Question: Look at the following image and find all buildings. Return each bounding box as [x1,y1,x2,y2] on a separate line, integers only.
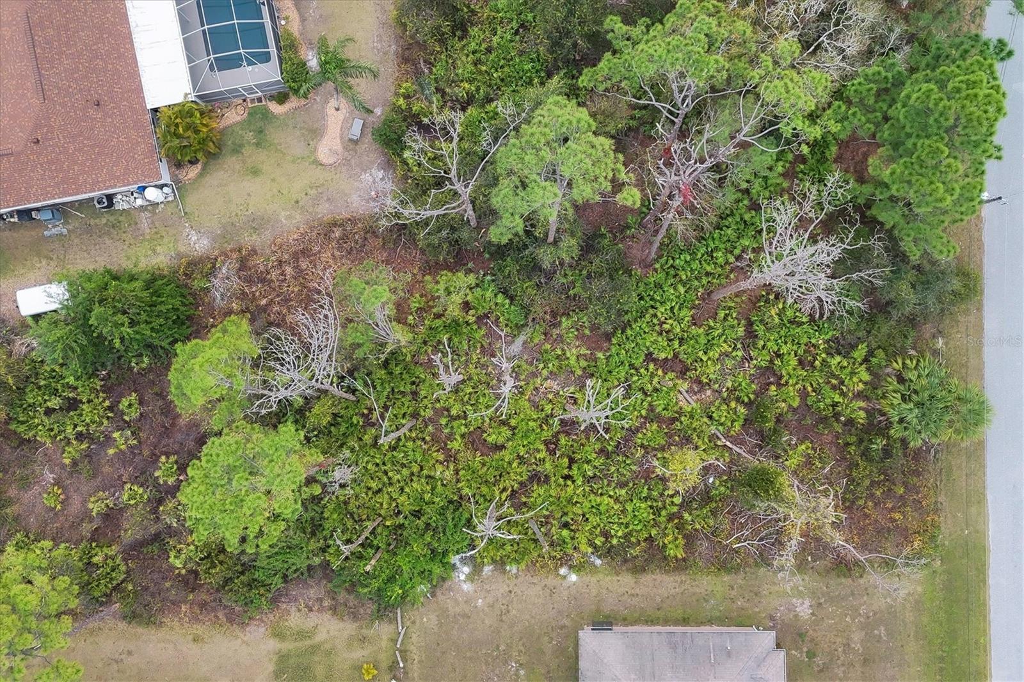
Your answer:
[577,612,788,682]
[0,0,210,215]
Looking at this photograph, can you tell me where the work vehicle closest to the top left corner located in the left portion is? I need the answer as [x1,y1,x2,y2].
[37,206,63,224]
